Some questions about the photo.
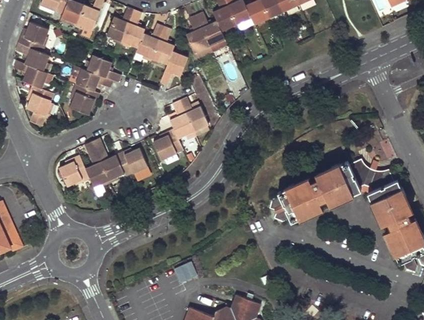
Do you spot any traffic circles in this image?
Yes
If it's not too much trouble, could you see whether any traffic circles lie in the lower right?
No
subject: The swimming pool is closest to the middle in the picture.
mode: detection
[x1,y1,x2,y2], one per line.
[222,60,238,82]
